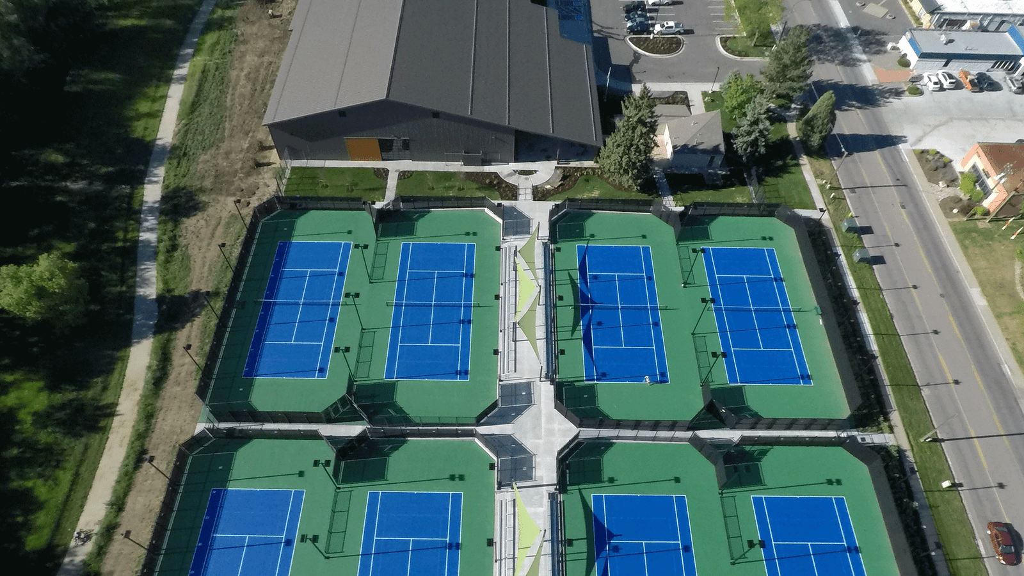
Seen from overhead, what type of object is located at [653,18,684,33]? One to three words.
vehicle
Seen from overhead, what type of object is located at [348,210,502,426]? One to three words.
tennis court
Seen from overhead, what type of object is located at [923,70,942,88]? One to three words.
car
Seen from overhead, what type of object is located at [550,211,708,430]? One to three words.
tennis court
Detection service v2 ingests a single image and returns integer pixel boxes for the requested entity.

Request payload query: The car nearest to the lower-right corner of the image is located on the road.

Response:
[980,519,1014,562]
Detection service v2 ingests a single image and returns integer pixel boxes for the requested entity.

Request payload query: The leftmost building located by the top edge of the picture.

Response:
[263,0,602,165]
